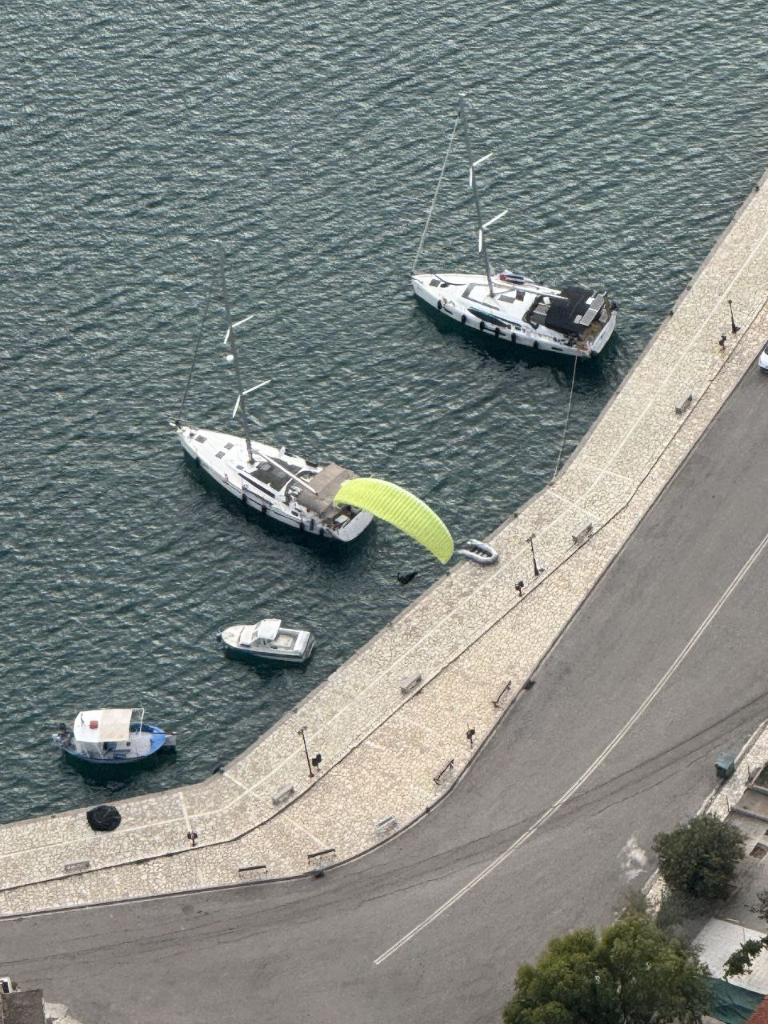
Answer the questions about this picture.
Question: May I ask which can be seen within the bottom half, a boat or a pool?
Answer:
boat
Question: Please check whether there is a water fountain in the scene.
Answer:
No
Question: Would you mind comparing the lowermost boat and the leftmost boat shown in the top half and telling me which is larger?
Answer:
the leftmost boat shown in the top half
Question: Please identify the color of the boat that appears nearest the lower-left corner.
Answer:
white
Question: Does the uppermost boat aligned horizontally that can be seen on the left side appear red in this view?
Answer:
No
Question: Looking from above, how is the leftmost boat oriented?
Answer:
from side to side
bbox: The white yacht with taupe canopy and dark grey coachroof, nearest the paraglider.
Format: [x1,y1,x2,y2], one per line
[175,235,375,549]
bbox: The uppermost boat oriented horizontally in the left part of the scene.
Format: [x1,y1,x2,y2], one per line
[218,616,321,662]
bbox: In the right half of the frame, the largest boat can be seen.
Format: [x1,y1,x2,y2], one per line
[409,87,620,362]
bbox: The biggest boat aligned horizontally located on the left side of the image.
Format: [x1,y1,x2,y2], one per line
[59,705,183,758]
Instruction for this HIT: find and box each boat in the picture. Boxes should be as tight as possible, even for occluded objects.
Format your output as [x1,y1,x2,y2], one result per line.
[59,705,183,758]
[409,87,620,362]
[175,235,375,549]
[456,535,498,562]
[218,616,321,662]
